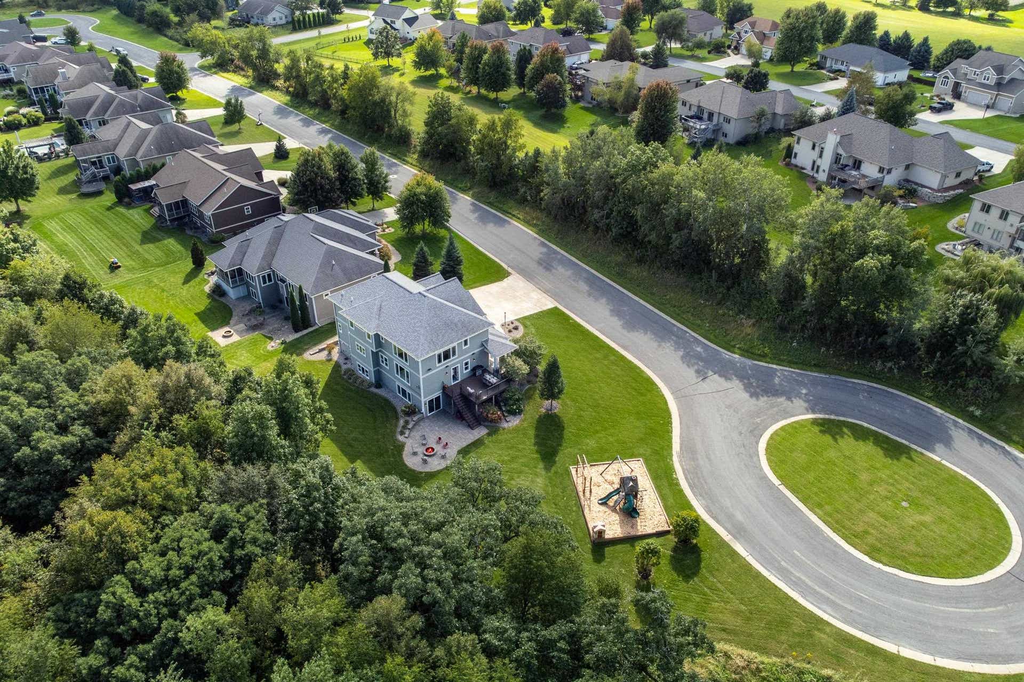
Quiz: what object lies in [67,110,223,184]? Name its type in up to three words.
house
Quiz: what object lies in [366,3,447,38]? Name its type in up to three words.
house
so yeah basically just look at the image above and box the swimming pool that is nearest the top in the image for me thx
[16,138,83,155]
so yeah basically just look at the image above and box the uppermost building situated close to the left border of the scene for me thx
[0,15,36,45]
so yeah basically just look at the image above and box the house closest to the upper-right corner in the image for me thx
[934,53,1024,111]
